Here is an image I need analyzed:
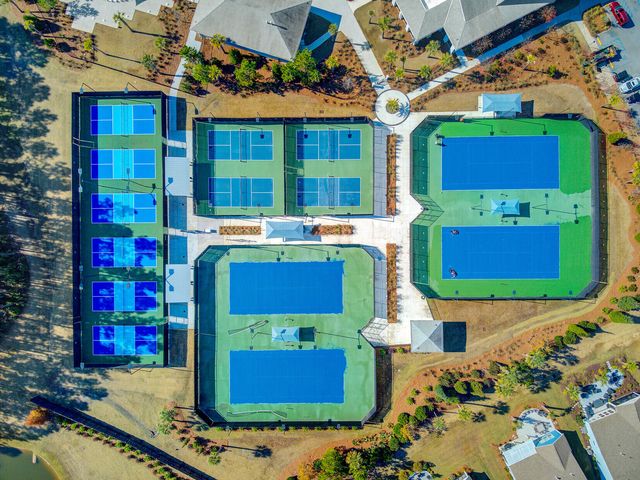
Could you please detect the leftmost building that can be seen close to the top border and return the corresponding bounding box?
[192,0,313,62]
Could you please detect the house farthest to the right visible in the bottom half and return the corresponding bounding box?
[581,386,640,480]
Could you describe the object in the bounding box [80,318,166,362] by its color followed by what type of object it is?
blue sports court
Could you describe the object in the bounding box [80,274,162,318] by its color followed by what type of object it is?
blue sports court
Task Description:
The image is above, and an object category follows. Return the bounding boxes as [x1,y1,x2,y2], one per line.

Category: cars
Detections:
[620,75,640,92]
[629,89,640,102]
[617,63,640,82]
[612,0,631,24]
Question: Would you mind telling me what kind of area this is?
sports ground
